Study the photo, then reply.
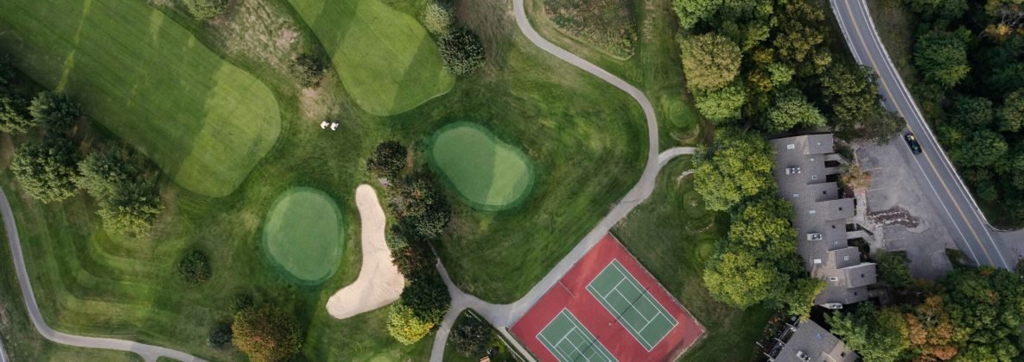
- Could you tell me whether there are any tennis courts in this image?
Yes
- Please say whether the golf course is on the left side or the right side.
left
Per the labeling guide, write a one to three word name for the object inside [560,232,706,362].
tennis court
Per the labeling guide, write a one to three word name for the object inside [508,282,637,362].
tennis court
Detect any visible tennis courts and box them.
[560,232,706,362]
[508,282,637,362]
